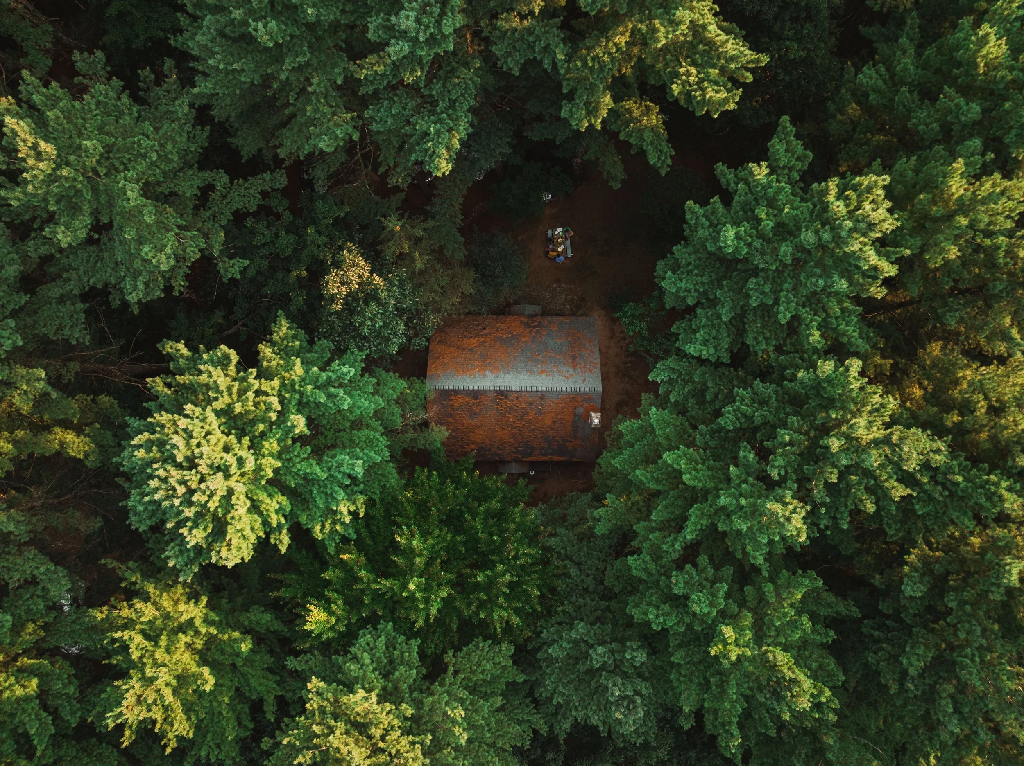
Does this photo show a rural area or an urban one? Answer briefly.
rural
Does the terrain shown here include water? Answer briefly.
No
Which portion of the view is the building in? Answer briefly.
center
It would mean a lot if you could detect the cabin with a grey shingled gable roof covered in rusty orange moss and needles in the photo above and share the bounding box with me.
[426,305,602,474]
